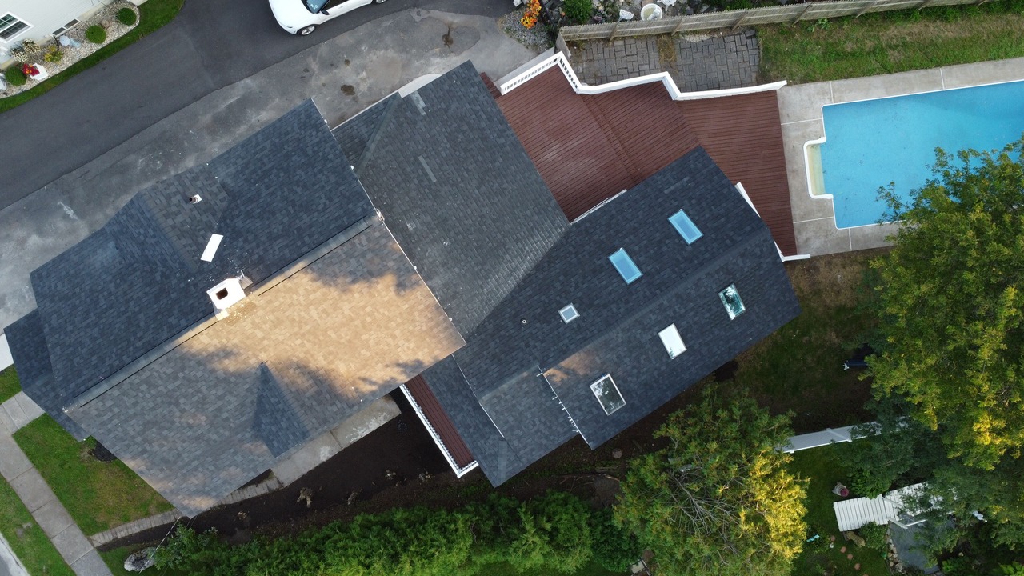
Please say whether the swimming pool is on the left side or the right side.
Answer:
right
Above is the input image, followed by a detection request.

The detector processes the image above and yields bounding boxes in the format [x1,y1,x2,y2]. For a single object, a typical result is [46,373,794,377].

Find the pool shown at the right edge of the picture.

[803,79,1024,230]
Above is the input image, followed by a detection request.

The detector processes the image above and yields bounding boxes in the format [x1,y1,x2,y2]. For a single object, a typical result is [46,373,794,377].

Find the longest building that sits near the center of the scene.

[6,61,802,518]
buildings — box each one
[6,61,802,518]
[0,0,111,61]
